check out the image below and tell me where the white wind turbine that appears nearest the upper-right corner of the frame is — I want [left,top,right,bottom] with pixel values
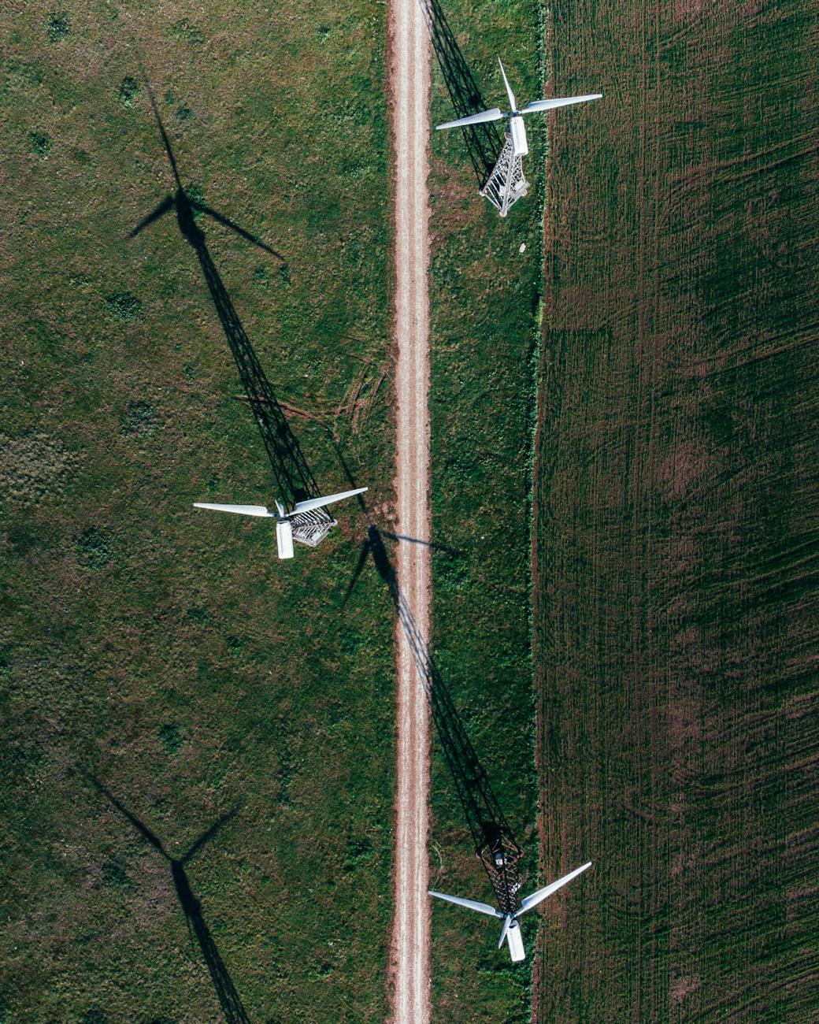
[435,61,605,219]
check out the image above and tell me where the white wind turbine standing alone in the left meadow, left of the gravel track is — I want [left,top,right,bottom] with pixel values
[197,489,364,557]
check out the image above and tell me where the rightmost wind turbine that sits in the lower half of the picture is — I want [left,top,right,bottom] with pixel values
[429,827,591,960]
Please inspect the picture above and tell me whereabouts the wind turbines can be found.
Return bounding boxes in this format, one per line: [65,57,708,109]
[197,489,364,557]
[435,61,605,219]
[429,827,591,960]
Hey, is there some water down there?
No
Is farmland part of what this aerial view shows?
Yes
